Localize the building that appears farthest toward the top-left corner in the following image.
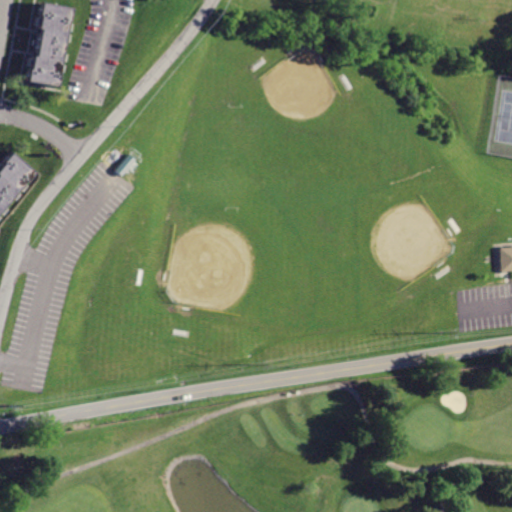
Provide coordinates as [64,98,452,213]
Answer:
[30,2,76,88]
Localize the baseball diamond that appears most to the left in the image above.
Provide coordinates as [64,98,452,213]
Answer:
[165,223,253,316]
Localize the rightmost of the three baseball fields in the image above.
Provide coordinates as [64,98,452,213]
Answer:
[370,196,456,290]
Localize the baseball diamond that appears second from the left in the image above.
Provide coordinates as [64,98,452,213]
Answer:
[260,50,341,120]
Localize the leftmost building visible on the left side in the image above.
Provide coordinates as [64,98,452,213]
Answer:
[0,154,41,230]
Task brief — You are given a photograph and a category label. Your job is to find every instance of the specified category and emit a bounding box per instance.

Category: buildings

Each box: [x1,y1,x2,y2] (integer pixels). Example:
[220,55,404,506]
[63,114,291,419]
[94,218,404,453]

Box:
[501,248,512,272]
[116,156,138,179]
[30,2,76,88]
[0,154,41,230]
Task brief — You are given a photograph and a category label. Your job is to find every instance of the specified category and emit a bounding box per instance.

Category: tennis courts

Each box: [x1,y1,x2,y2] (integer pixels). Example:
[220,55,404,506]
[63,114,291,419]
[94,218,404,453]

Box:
[486,76,512,158]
